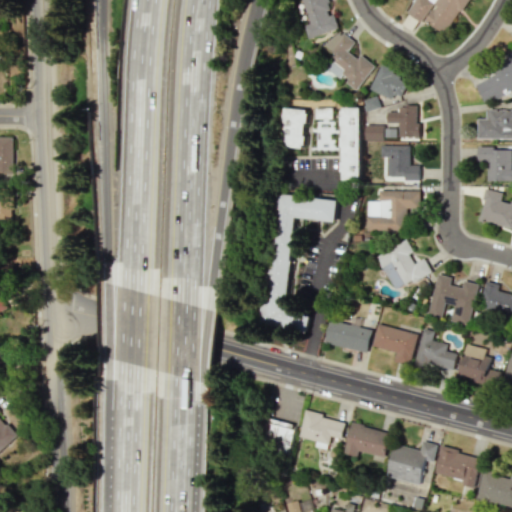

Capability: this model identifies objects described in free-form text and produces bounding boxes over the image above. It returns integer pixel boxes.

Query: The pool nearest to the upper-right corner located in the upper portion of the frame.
[309,66,338,90]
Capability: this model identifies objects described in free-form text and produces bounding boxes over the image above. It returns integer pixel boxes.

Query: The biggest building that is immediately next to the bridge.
[262,194,336,325]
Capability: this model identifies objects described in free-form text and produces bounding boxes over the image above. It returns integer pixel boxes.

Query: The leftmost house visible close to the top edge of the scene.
[302,0,338,38]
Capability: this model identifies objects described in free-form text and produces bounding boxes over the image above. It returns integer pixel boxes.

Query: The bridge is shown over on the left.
[97,262,218,406]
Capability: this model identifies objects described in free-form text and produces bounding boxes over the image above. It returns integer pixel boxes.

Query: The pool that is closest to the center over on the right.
[375,280,409,301]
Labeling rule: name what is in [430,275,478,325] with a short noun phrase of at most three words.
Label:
house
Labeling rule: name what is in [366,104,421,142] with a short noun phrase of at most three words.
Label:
house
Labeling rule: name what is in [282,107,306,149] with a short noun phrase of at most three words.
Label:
building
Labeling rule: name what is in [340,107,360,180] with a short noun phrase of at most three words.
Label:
building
